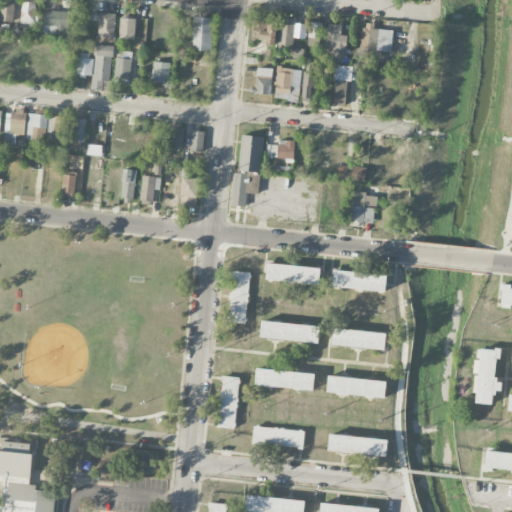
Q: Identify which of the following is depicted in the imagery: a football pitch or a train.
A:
football pitch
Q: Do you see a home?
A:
Yes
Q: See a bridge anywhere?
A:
Yes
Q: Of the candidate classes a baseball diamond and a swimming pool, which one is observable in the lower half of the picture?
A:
baseball diamond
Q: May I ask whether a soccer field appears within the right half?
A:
No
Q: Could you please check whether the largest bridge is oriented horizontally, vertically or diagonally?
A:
horizontally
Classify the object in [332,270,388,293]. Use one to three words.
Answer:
building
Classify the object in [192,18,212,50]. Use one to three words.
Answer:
house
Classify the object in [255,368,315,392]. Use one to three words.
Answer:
building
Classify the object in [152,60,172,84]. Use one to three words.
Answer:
house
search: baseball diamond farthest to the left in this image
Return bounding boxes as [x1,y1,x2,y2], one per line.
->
[23,322,89,388]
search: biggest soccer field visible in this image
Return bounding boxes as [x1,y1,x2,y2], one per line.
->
[92,278,162,388]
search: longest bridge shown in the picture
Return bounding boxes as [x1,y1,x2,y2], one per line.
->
[396,240,495,278]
